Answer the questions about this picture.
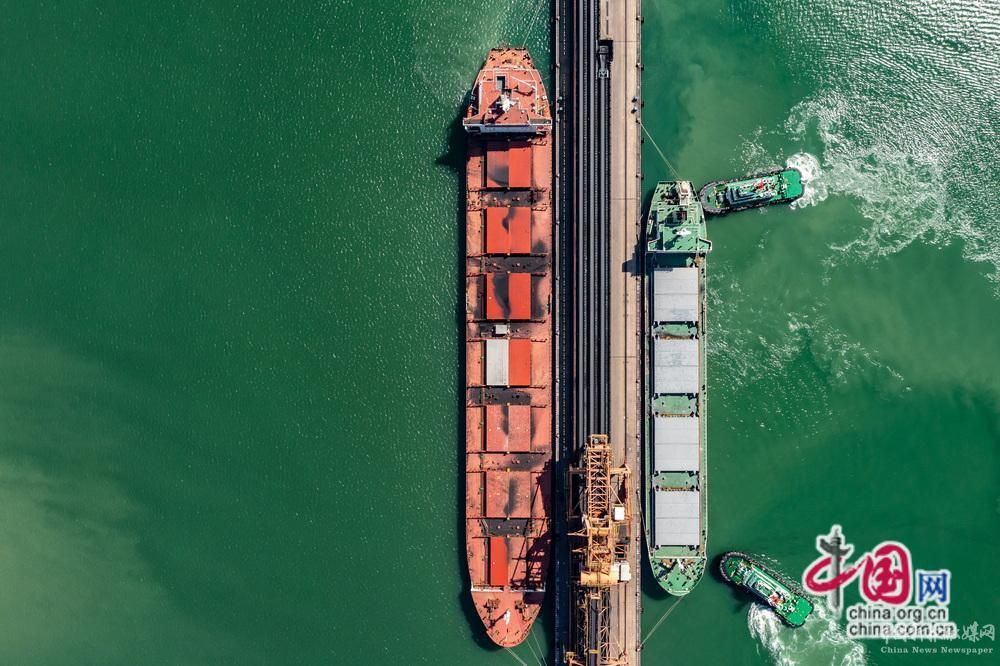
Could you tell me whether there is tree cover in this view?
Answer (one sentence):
No, no tree cover is visible.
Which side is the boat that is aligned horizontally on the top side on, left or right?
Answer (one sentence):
The boat that is aligned horizontally on the top side sits on the right side.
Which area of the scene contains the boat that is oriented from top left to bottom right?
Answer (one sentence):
The boat that is oriented from top left to bottom right appears toward the bottom right of the photo.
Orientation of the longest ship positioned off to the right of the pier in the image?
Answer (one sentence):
I'd say the longest ship positioned off to the right of the pier is aligned vertically in the picture.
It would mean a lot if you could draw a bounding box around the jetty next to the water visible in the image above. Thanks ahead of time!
[553,0,641,666]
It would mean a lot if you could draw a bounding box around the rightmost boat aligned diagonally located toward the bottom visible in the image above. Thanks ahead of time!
[719,558,815,630]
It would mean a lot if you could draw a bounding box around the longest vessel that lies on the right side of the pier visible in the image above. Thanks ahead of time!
[644,180,713,597]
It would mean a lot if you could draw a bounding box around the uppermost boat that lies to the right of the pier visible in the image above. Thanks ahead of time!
[700,169,806,212]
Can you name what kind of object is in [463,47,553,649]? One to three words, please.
ship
